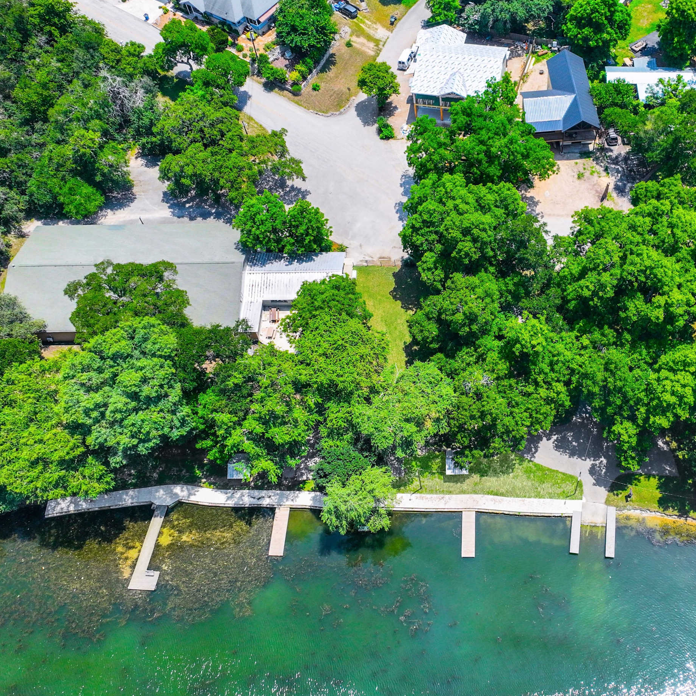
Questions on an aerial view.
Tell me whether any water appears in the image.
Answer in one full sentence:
Yes, the picture does contain water.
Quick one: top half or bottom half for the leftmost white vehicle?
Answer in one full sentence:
The leftmost white vehicle is in the top half of the image.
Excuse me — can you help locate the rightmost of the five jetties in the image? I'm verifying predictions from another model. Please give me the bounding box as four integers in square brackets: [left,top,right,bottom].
[604,510,616,559]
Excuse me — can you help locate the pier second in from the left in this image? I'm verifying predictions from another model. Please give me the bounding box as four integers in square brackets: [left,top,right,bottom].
[269,507,290,557]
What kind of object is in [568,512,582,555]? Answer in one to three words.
pier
